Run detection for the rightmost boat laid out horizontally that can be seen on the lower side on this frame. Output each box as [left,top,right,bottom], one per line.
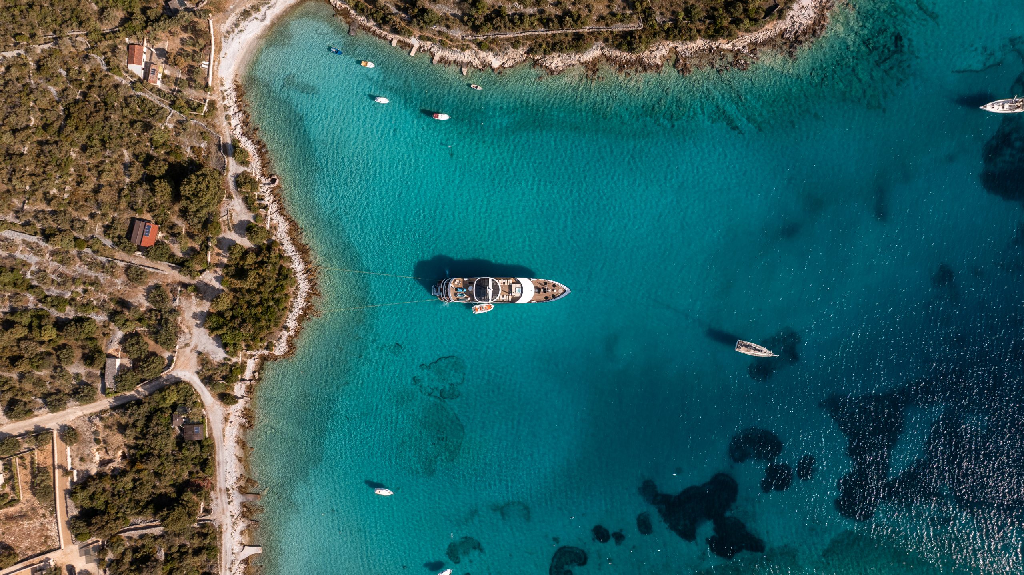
[735,342,773,357]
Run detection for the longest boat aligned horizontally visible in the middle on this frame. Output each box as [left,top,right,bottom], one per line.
[432,275,571,303]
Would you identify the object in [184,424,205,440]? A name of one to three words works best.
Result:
house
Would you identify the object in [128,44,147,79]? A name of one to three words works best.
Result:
house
